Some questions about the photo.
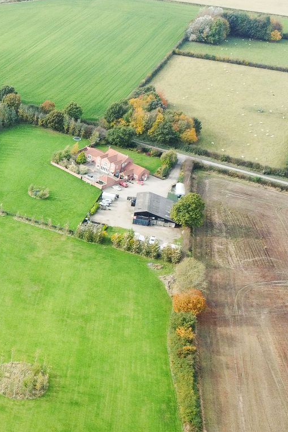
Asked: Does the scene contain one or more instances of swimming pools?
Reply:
No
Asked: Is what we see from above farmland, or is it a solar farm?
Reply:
farmland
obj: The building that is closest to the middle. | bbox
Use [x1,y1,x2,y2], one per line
[130,188,181,228]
